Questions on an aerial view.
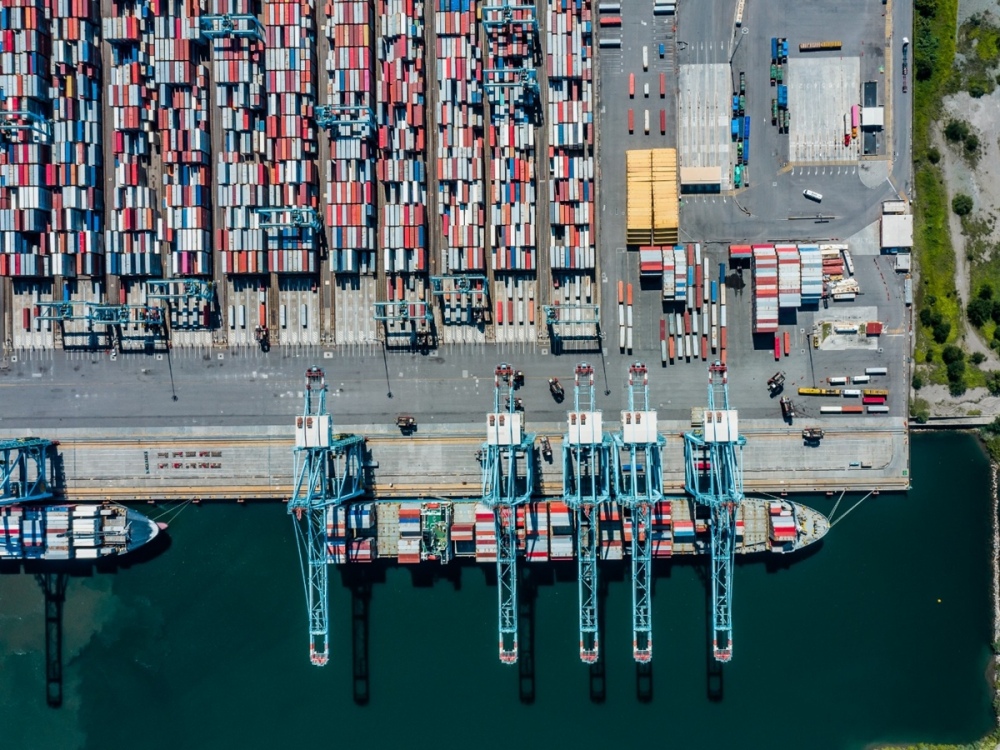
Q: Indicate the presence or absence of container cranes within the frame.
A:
Yes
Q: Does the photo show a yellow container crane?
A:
No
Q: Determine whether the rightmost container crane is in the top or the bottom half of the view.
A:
bottom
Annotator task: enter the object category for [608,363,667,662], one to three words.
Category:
container crane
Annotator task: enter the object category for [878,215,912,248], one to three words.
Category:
shed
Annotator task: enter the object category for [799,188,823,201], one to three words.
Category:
vehicle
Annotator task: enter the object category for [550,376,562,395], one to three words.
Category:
vehicle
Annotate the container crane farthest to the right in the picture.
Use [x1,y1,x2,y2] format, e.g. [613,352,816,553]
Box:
[674,362,746,661]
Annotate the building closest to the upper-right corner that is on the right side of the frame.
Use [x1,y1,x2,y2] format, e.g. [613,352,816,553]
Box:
[862,82,877,107]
